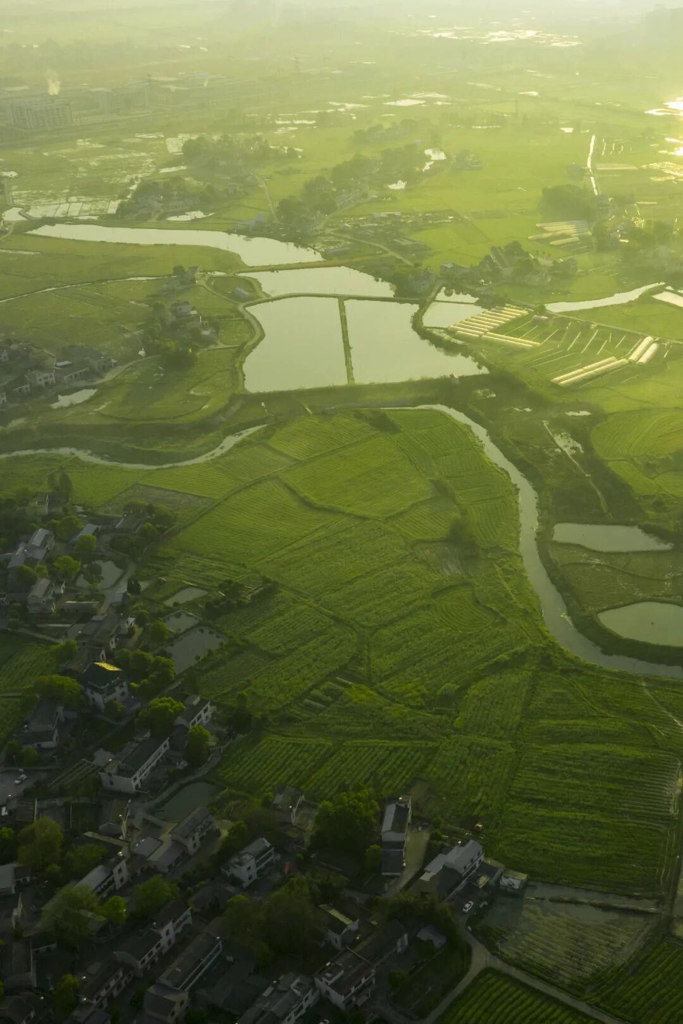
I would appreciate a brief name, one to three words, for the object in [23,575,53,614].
house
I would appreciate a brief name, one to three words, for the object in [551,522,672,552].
pond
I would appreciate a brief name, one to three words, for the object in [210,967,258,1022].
barn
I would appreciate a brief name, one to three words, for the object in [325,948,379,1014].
house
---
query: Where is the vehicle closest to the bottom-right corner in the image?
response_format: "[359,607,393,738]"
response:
[460,896,477,916]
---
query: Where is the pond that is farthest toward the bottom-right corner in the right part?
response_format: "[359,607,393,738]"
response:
[604,601,683,642]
